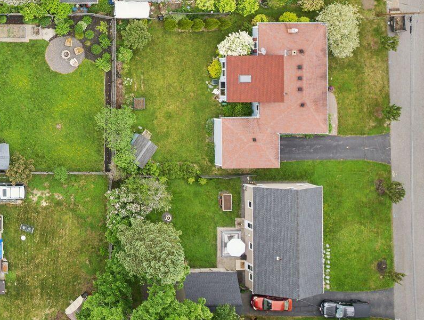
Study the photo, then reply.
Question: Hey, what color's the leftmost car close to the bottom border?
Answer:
red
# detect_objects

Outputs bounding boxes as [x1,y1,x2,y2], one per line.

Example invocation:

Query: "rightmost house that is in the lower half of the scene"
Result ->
[234,183,324,300]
